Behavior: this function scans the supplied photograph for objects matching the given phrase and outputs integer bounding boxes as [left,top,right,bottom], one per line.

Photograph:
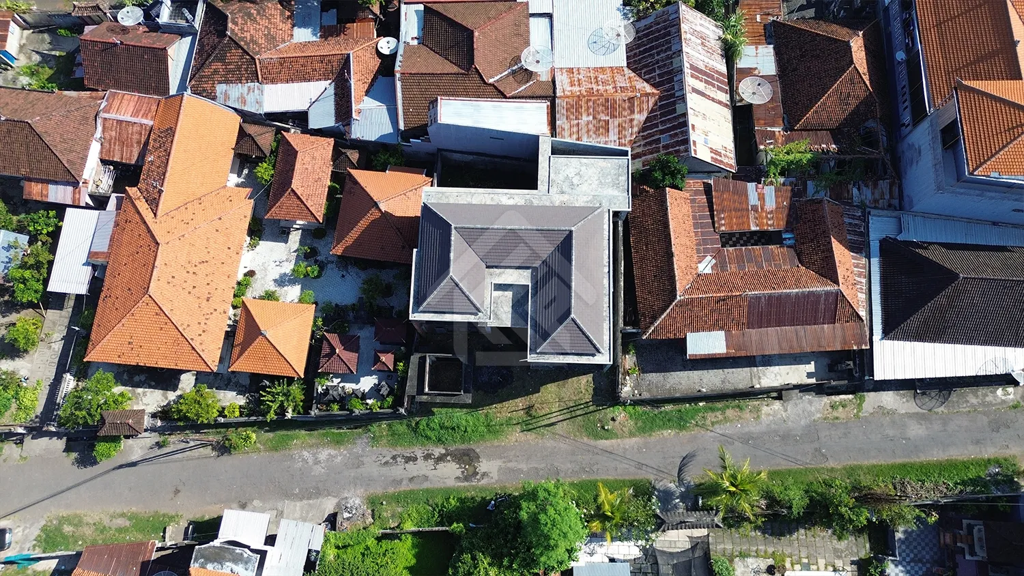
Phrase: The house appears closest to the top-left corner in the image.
[0,11,38,71]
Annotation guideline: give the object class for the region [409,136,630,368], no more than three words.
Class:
house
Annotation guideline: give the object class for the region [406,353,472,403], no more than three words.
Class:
shed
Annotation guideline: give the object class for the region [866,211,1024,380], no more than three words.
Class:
house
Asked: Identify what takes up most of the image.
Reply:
buildings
